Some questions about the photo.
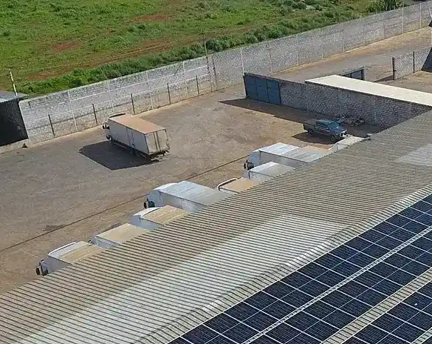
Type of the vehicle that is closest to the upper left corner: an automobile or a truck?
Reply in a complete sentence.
It turns out the vehicle that is closest to the upper left corner is a truck.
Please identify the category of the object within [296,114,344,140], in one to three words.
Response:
truck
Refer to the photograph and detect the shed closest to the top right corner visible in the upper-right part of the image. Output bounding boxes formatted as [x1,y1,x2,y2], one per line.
[307,74,432,107]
